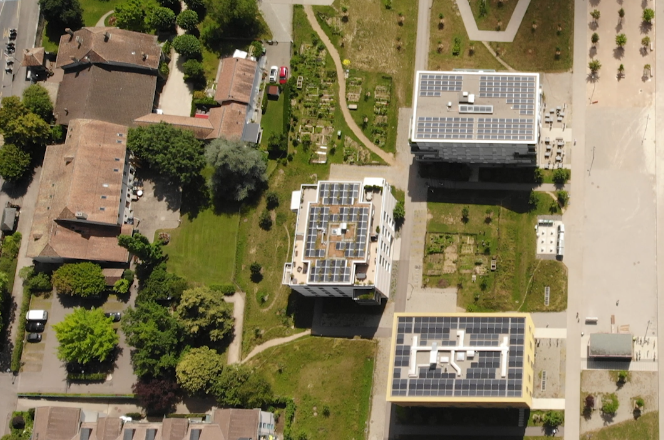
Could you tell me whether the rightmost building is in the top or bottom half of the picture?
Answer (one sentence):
The rightmost building sits in the bottom half of the picture.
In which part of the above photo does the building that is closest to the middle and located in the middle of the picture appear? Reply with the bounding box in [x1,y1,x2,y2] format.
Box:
[283,177,400,299]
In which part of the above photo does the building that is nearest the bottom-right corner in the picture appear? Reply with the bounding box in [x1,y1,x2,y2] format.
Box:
[589,333,631,358]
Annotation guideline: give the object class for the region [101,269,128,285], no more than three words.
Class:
building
